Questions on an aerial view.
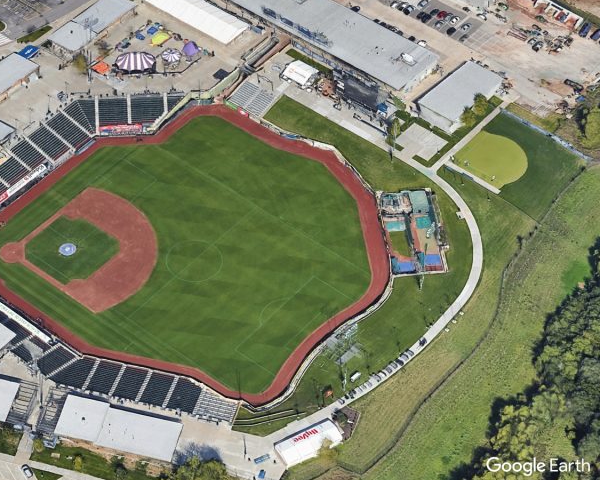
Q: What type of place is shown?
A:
sports ground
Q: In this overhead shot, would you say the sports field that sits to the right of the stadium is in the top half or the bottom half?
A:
top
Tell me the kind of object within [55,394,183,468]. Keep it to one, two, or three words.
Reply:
building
